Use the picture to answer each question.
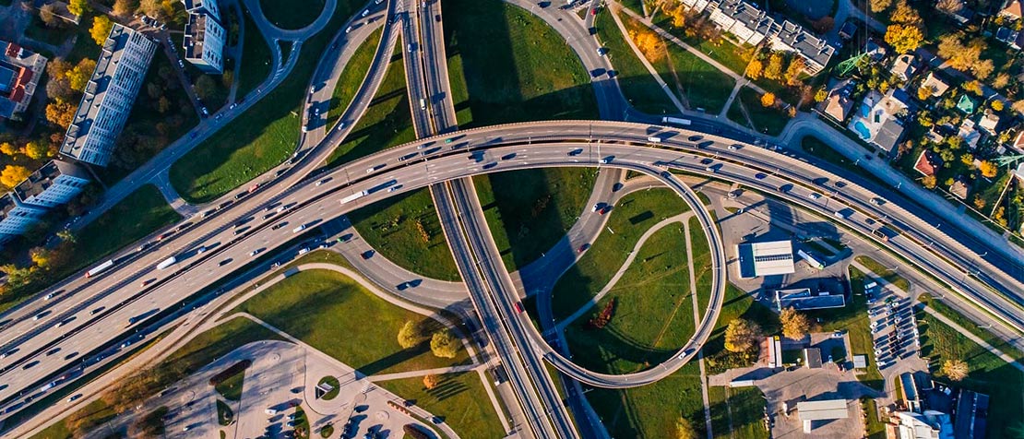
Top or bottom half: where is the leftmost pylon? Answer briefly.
top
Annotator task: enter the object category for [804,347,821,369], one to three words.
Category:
shed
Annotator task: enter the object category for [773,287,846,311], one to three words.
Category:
building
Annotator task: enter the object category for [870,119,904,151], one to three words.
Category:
house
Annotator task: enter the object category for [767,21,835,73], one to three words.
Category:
building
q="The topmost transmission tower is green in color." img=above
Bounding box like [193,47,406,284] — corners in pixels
[832,55,872,77]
